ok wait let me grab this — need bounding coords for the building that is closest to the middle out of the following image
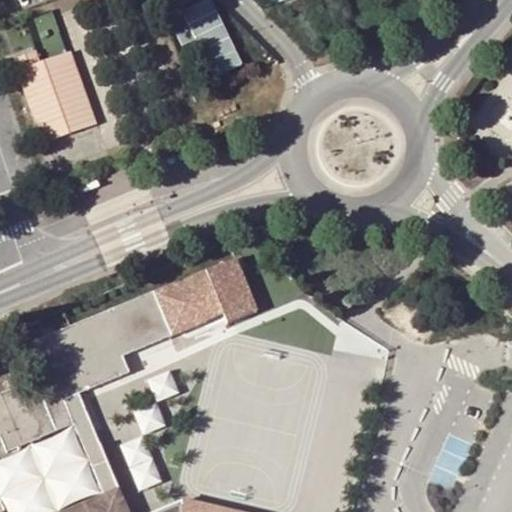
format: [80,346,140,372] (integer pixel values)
[154,258,257,336]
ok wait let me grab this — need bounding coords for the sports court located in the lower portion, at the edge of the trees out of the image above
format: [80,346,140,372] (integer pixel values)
[183,333,328,512]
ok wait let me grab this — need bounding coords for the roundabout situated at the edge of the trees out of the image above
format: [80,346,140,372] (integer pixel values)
[276,66,442,230]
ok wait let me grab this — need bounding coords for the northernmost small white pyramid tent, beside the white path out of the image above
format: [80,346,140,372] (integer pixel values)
[146,371,179,404]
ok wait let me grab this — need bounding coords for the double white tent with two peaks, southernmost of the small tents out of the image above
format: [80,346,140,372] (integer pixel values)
[118,436,161,494]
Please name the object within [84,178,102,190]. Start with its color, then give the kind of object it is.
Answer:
white vehicle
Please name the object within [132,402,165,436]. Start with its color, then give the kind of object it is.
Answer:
white tent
